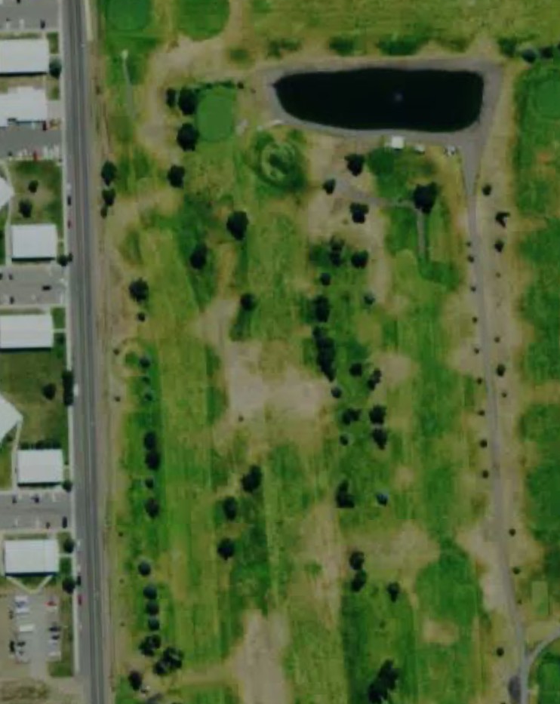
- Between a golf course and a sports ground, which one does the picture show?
golf course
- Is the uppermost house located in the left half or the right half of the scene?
left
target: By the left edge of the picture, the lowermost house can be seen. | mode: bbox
[5,539,58,573]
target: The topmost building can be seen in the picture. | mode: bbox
[0,38,47,71]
